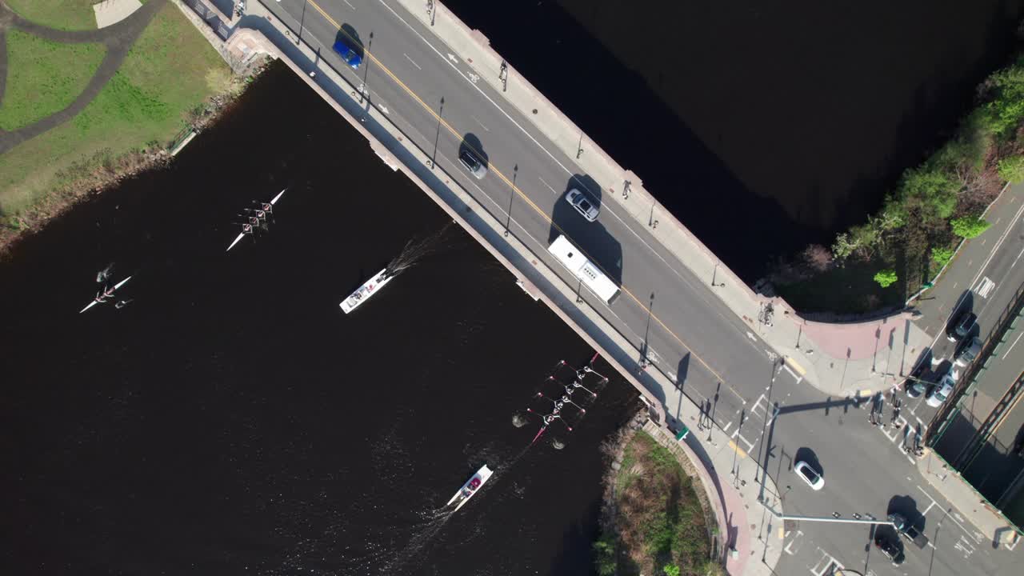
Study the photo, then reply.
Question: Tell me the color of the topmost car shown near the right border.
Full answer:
From above, the topmost car shown near the right border appears black.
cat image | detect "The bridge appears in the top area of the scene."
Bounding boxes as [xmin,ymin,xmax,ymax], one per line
[197,0,786,433]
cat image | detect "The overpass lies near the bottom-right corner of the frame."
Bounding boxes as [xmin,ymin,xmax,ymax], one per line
[925,446,1024,533]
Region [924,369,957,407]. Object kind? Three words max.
car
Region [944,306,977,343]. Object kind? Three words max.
car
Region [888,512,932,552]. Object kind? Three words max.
truck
